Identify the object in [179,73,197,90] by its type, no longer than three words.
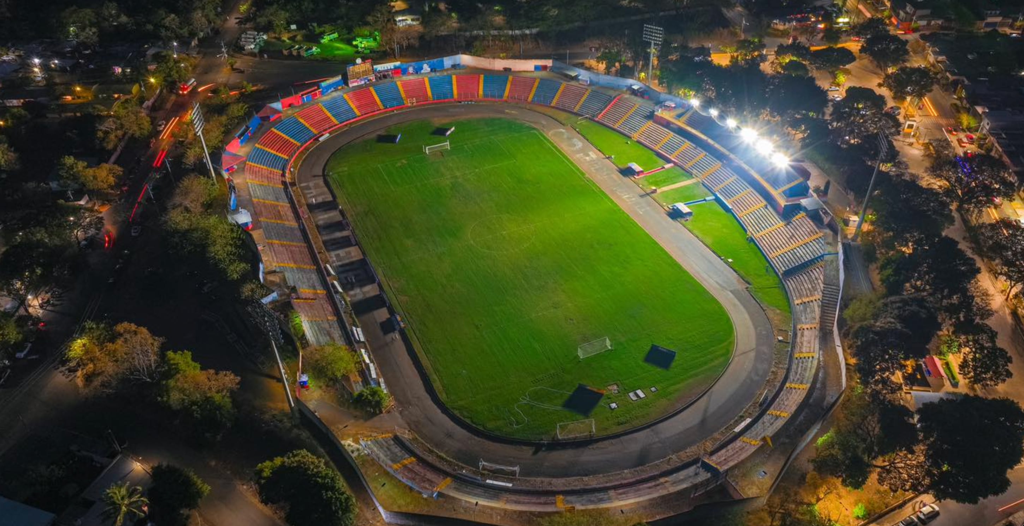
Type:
vehicle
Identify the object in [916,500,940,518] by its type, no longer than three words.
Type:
car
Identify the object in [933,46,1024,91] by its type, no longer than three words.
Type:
building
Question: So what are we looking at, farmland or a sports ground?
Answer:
sports ground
